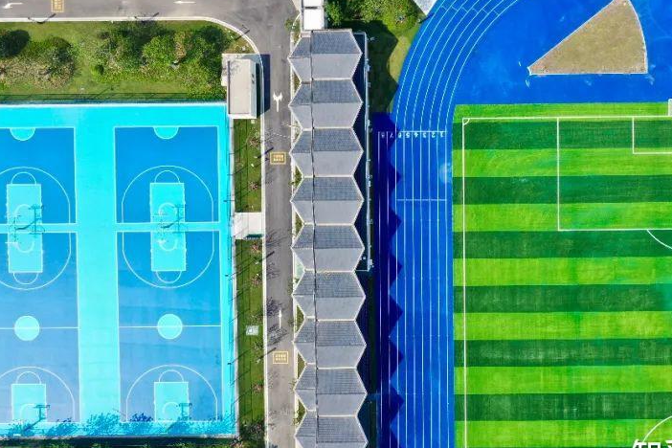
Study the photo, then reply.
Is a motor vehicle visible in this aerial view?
No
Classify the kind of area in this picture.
sports ground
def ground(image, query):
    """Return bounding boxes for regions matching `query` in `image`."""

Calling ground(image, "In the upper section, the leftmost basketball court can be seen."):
[0,127,76,223]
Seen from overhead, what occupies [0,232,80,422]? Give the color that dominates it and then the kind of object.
blue basketball court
